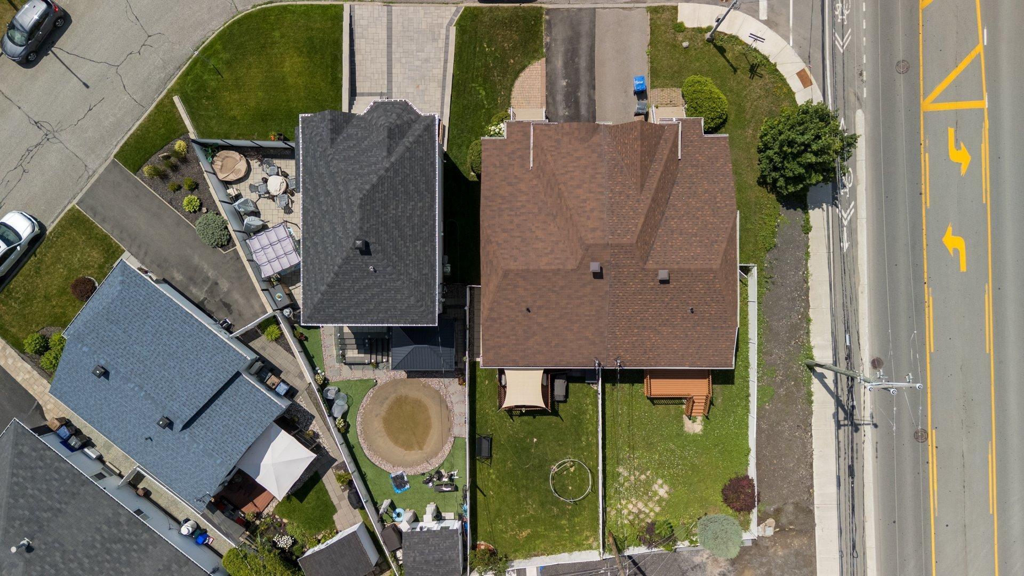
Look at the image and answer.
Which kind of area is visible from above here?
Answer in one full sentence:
The picture captures a residential area.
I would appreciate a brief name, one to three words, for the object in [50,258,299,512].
house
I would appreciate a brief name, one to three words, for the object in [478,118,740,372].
house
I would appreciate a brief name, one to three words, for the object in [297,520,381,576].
shed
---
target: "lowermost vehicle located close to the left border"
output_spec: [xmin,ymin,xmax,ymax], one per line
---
[0,212,40,283]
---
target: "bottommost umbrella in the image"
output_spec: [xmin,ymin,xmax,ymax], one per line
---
[376,500,392,525]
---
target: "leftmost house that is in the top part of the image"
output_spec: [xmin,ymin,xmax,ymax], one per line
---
[295,99,453,325]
